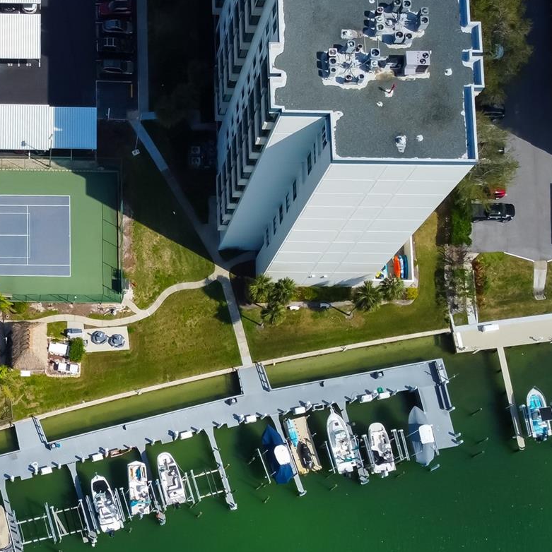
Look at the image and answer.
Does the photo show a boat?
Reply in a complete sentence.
Yes, there is a boat in the image.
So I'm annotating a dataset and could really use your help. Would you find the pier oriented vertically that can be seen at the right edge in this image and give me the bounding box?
[493,347,524,449]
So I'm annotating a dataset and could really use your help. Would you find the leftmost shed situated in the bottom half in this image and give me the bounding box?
[8,319,51,374]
